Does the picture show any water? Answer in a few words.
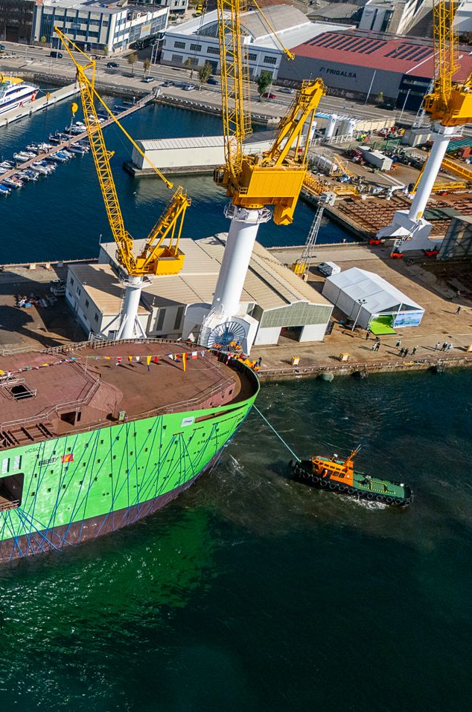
Yes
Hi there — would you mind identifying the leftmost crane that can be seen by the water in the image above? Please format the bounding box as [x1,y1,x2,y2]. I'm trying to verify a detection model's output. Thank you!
[45,28,195,338]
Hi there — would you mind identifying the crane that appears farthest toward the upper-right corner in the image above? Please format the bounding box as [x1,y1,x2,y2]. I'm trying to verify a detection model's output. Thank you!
[353,0,472,247]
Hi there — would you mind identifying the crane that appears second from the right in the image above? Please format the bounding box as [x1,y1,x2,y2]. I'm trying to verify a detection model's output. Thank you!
[176,0,323,368]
